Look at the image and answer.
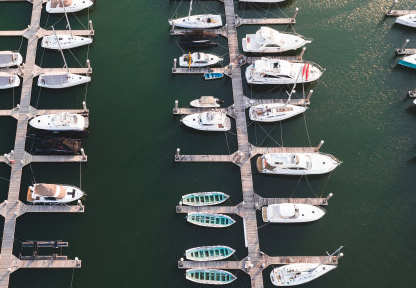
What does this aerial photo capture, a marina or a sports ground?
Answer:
marina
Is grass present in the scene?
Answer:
No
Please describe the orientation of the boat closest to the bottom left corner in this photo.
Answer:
horizontally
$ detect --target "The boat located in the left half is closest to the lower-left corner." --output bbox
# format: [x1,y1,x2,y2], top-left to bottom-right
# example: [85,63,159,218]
[28,186,85,207]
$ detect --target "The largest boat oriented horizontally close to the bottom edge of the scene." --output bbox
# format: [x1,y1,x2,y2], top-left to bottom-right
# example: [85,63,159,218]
[267,248,353,284]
